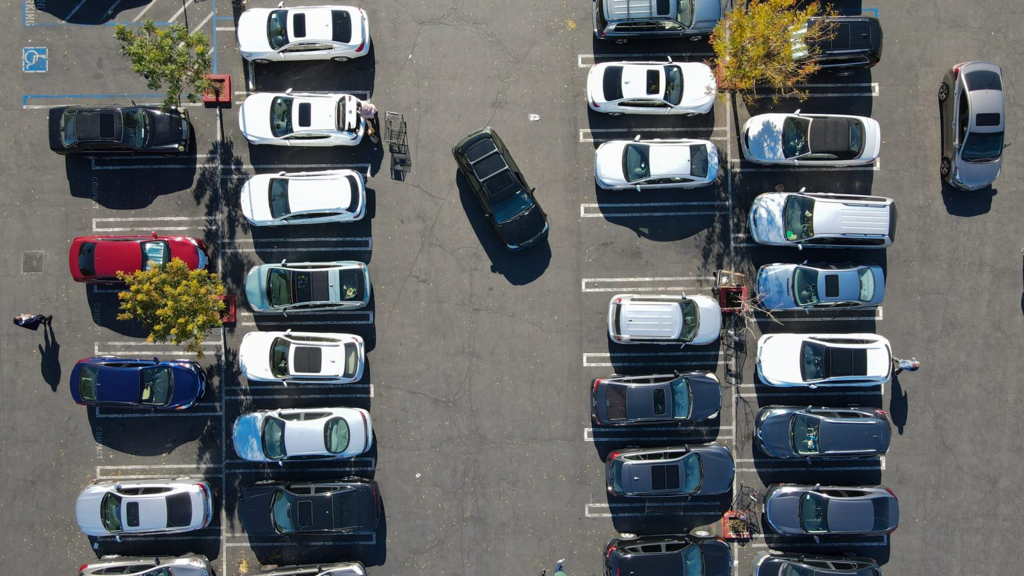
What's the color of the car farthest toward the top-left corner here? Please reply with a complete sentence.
The color of the car farthest toward the top-left corner is black.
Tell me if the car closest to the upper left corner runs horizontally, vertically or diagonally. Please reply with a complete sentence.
What the image shows is the car closest to the upper left corner lying horizontally.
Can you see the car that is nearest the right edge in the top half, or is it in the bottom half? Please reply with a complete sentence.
It is in the top half that the car that is nearest the right edge appears.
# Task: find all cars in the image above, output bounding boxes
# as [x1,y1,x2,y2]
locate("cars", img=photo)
[234,406,373,469]
[453,125,548,253]
[753,404,891,465]
[81,554,215,576]
[591,370,719,432]
[754,257,884,317]
[71,231,209,285]
[751,551,881,576]
[587,56,716,118]
[238,0,370,64]
[242,165,366,231]
[756,330,891,394]
[595,134,717,193]
[741,107,879,169]
[592,0,720,45]
[77,479,214,543]
[247,558,366,576]
[71,355,206,417]
[50,100,190,160]
[248,256,371,318]
[608,289,720,351]
[748,187,896,253]
[606,444,733,504]
[241,87,366,149]
[763,482,898,543]
[604,535,731,576]
[938,61,1011,190]
[751,9,882,72]
[241,327,365,391]
[238,478,382,544]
